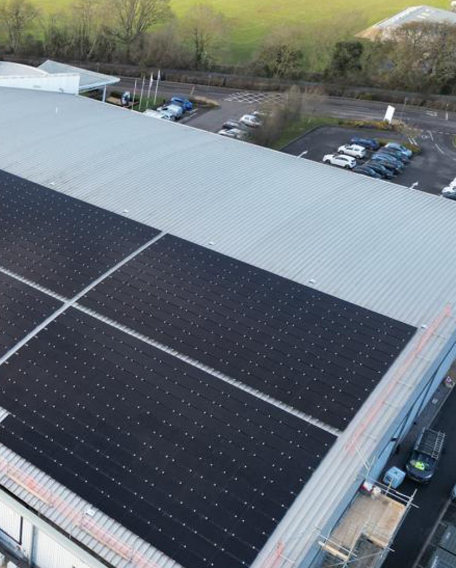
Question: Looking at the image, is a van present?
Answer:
Yes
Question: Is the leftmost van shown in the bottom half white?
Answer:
No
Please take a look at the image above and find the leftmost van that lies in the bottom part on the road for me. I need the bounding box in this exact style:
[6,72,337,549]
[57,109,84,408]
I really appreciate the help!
[398,429,448,485]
